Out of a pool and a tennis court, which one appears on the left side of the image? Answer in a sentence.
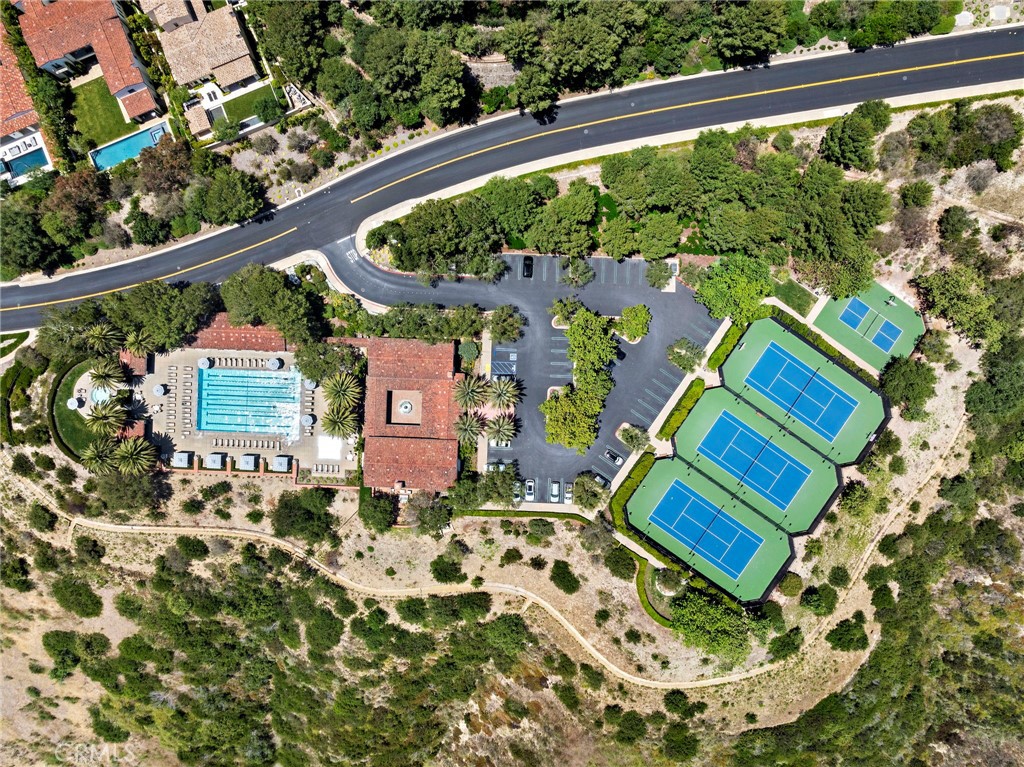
There is a pool on the left side of the image.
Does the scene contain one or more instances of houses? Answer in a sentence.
Yes, this view includes a house.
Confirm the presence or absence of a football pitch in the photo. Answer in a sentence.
No, no football pitch is visible in the scene.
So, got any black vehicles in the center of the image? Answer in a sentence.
Yes, a black vehicle can be seen in the center of the image.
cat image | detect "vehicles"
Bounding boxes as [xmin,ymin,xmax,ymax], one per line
[490,439,511,448]
[610,344,629,362]
[490,373,511,382]
[524,256,532,278]
[606,360,616,370]
[513,481,522,502]
[525,479,535,500]
[596,473,614,490]
[564,482,574,504]
[550,480,560,502]
[484,463,505,472]
[604,448,624,465]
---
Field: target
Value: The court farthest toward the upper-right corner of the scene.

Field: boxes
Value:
[814,270,925,377]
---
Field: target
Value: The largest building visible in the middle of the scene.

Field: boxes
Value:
[360,337,465,488]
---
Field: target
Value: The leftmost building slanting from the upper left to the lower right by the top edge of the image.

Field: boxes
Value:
[14,0,163,122]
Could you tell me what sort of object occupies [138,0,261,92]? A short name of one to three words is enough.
house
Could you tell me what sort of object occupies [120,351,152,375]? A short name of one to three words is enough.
building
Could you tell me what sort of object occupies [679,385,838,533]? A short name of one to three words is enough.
tennis court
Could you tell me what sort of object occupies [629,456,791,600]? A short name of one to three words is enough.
tennis court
